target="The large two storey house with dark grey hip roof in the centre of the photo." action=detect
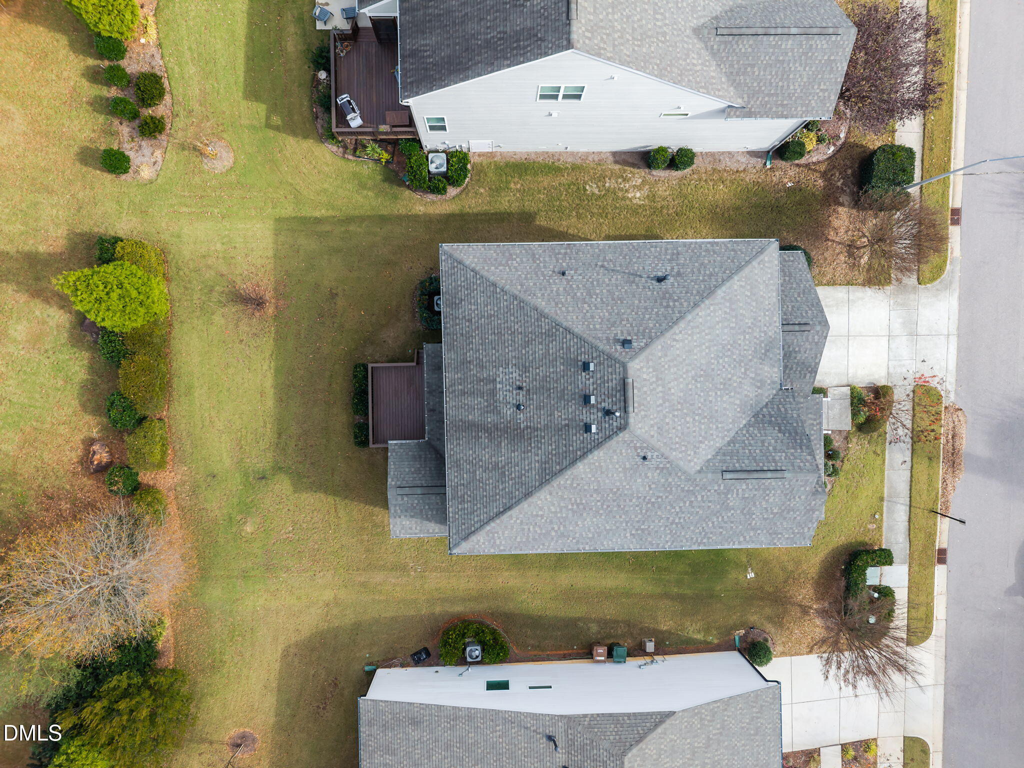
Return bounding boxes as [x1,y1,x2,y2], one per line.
[388,236,832,558]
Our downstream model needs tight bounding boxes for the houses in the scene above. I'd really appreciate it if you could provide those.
[356,644,786,768]
[354,0,855,161]
[388,236,832,558]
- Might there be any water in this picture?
No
